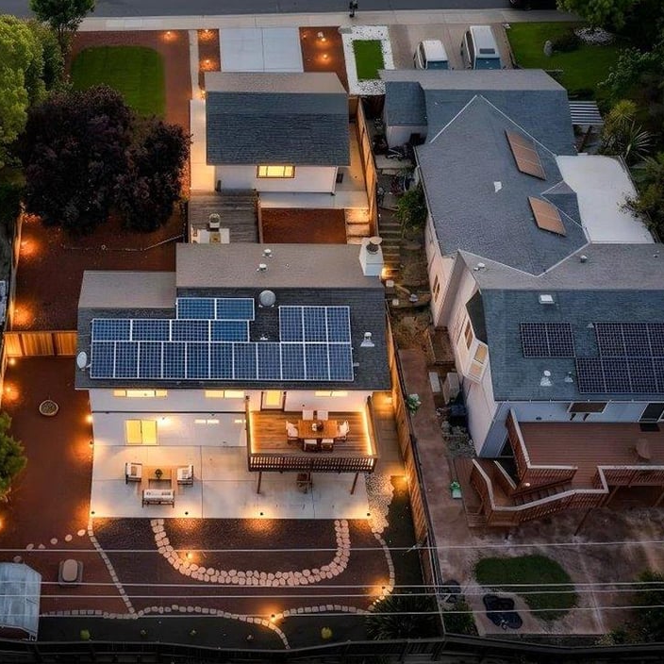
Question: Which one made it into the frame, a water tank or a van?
van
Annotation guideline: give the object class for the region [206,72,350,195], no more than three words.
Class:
building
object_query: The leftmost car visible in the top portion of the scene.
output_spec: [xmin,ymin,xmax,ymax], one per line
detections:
[418,37,451,71]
